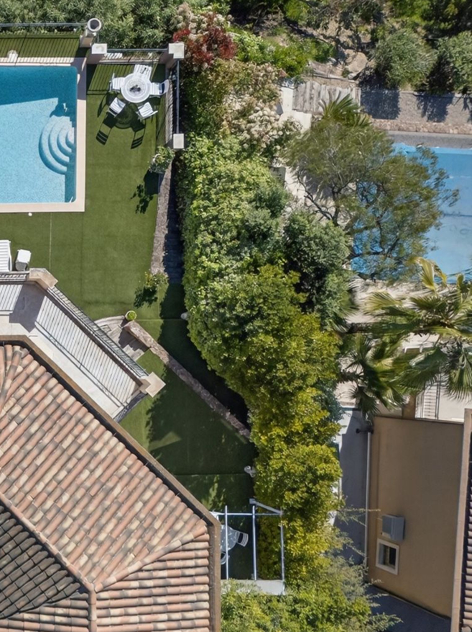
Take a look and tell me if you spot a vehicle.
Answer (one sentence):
No, there's no vehicle here.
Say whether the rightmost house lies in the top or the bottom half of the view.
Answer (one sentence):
The bottom half of the photo is where the rightmost house is.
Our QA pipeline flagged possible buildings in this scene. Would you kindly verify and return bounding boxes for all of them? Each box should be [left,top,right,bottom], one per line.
[0,339,220,632]
[371,409,472,632]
